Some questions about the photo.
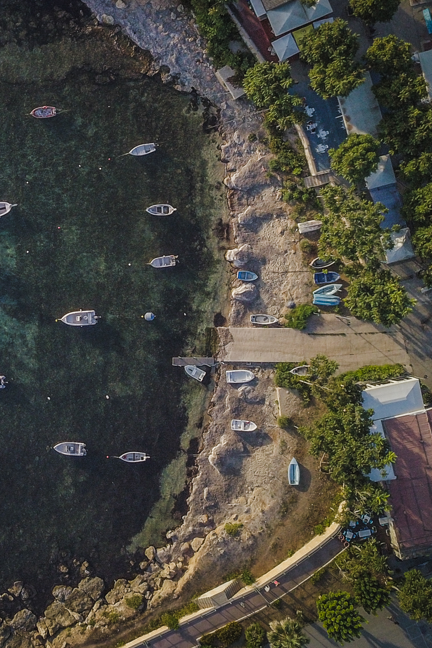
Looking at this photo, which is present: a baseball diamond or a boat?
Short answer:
boat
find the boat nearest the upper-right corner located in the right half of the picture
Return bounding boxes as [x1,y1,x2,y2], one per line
[296,220,321,234]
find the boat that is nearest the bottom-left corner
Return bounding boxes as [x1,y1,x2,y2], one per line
[54,441,90,456]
